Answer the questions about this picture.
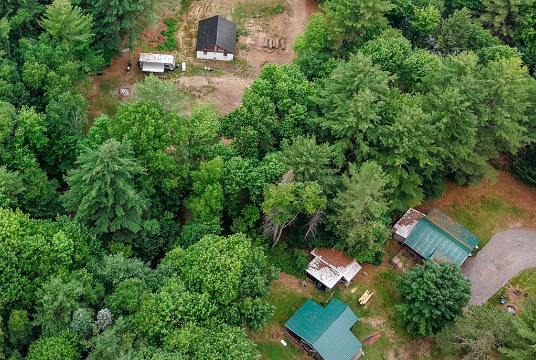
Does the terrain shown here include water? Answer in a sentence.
No, the scene doesn't show any water.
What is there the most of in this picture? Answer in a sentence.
The largest share of the image is taken up by trees.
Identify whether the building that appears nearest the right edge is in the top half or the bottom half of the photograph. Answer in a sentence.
Seen from above, the building that appears nearest the right edge lies in the bottom half of the view.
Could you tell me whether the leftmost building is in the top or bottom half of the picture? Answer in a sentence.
The top half of the photo is where the leftmost building is.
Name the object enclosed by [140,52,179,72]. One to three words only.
trailer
